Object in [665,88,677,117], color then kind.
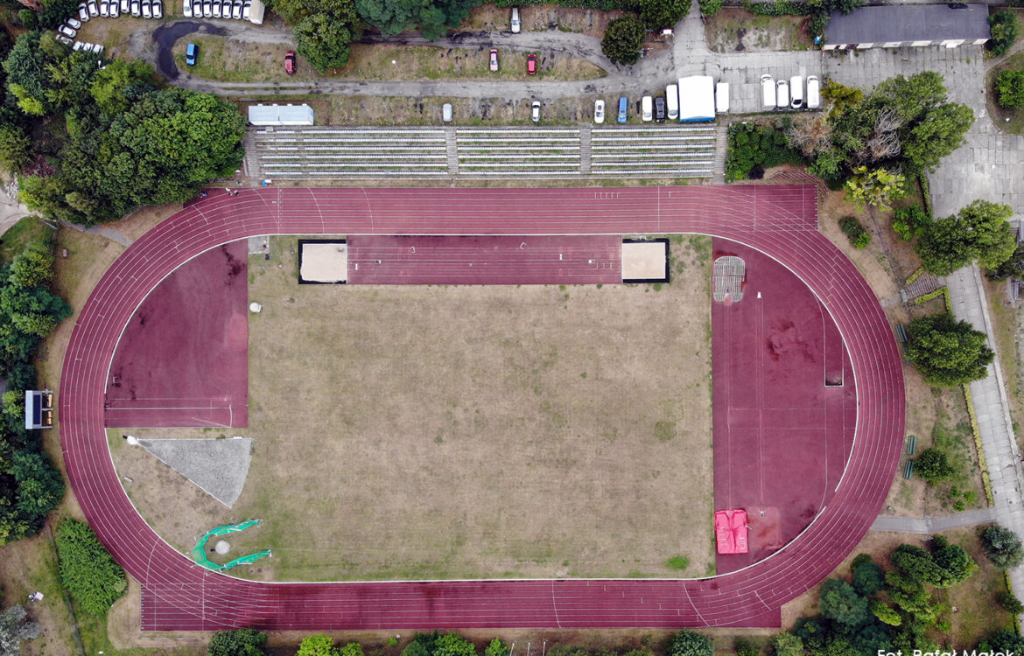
white vehicle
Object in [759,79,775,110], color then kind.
white vehicle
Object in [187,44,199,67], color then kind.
blue vehicle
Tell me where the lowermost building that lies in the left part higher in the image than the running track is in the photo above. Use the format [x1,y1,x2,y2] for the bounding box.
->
[249,105,313,123]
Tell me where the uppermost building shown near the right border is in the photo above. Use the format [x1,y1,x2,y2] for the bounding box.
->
[816,3,990,51]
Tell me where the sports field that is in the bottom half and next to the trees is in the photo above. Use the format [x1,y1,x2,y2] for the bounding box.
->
[108,233,719,582]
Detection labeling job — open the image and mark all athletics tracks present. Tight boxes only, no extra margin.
[59,182,906,632]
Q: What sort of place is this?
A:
sports ground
